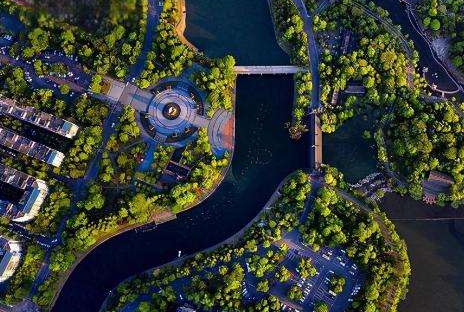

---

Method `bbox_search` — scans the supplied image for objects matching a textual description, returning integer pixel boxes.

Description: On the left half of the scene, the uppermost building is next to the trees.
[0,95,77,138]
